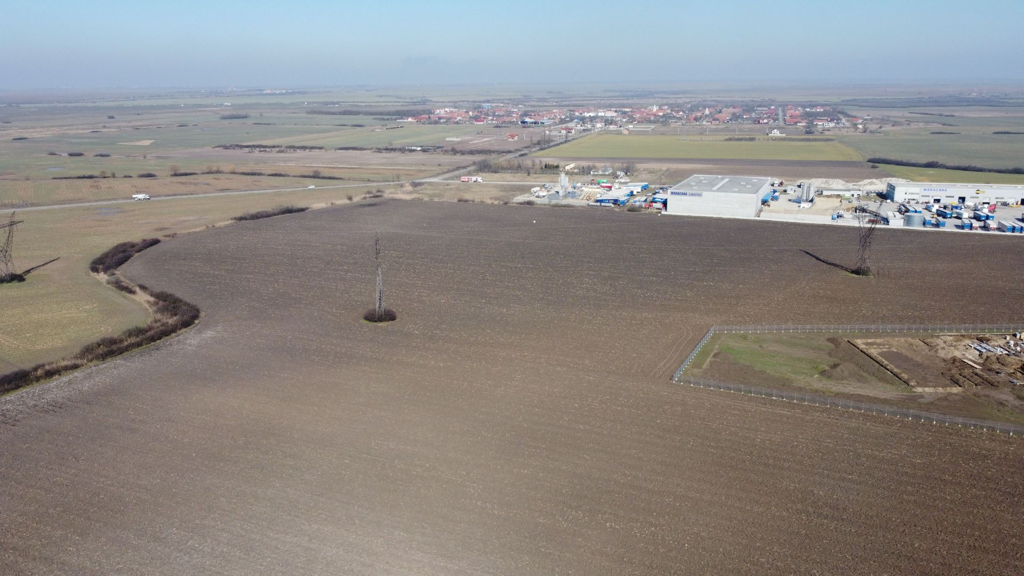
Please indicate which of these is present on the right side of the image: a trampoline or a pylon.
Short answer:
pylon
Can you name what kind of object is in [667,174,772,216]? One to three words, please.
building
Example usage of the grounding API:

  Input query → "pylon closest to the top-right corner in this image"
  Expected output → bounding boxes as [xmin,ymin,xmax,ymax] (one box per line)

[853,195,887,274]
